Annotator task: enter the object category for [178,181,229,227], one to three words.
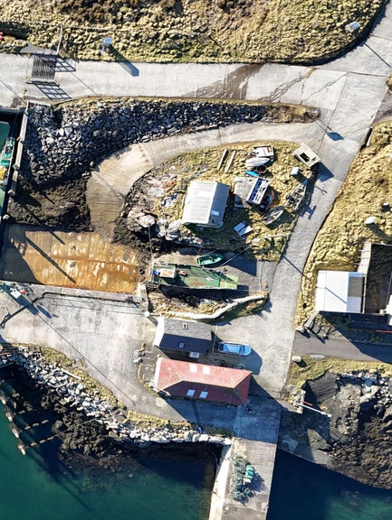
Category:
shed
